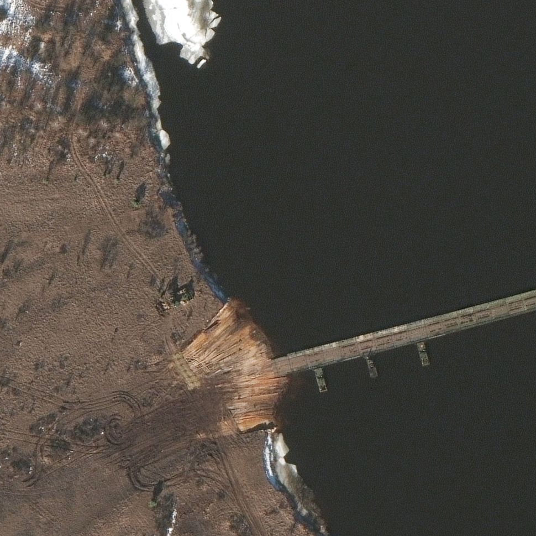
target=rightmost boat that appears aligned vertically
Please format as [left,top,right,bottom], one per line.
[418,341,431,366]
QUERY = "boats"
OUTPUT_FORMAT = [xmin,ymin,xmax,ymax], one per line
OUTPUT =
[367,356,378,378]
[418,341,431,366]
[314,368,327,393]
